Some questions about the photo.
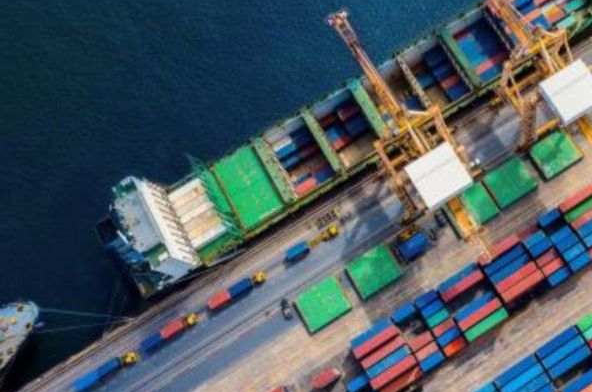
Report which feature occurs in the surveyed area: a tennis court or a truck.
truck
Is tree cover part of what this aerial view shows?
No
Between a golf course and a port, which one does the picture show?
port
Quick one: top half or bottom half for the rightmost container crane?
top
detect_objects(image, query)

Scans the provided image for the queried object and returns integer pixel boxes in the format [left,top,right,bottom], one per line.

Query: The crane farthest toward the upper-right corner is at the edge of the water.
[489,0,592,146]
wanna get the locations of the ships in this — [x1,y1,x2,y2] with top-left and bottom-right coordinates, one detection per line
[0,306,47,375]
[91,0,592,304]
